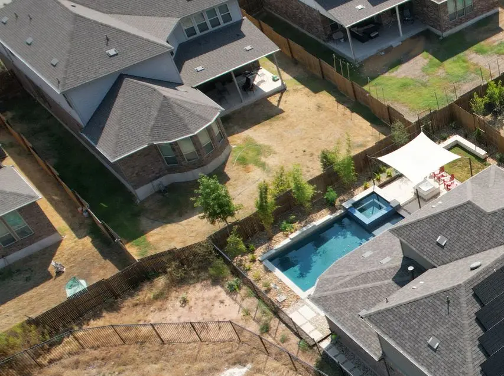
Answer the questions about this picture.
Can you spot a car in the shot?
No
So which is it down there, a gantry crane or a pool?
pool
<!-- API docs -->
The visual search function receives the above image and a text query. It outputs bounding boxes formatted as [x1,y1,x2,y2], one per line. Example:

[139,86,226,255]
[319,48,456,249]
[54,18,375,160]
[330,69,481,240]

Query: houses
[306,181,504,376]
[0,0,287,201]
[248,0,495,65]
[0,165,63,272]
